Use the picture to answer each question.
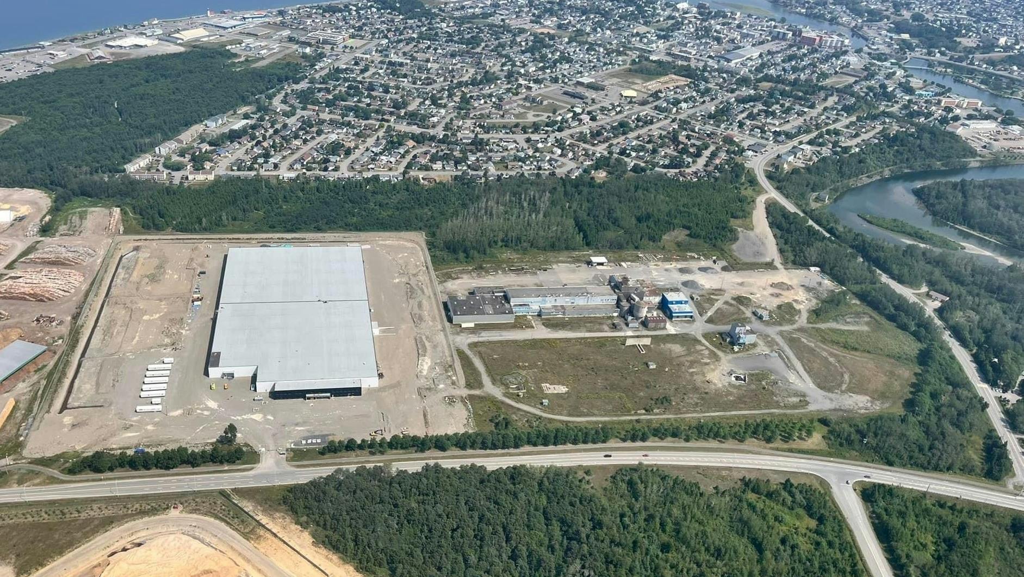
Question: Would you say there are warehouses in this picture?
Yes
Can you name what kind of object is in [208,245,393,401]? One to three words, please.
warehouse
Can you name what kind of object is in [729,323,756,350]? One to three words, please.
house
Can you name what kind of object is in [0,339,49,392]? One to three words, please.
shed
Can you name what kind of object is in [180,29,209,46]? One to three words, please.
building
